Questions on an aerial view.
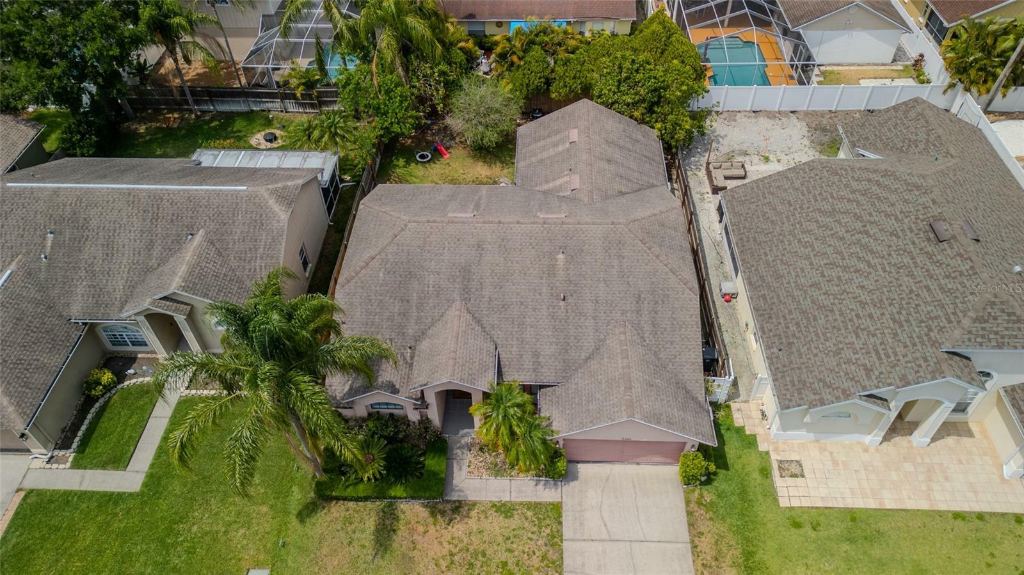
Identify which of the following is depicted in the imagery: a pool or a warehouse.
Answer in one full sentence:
Looking from above, you can make out a pool.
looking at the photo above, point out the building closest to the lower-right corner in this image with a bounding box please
[714,96,1024,484]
